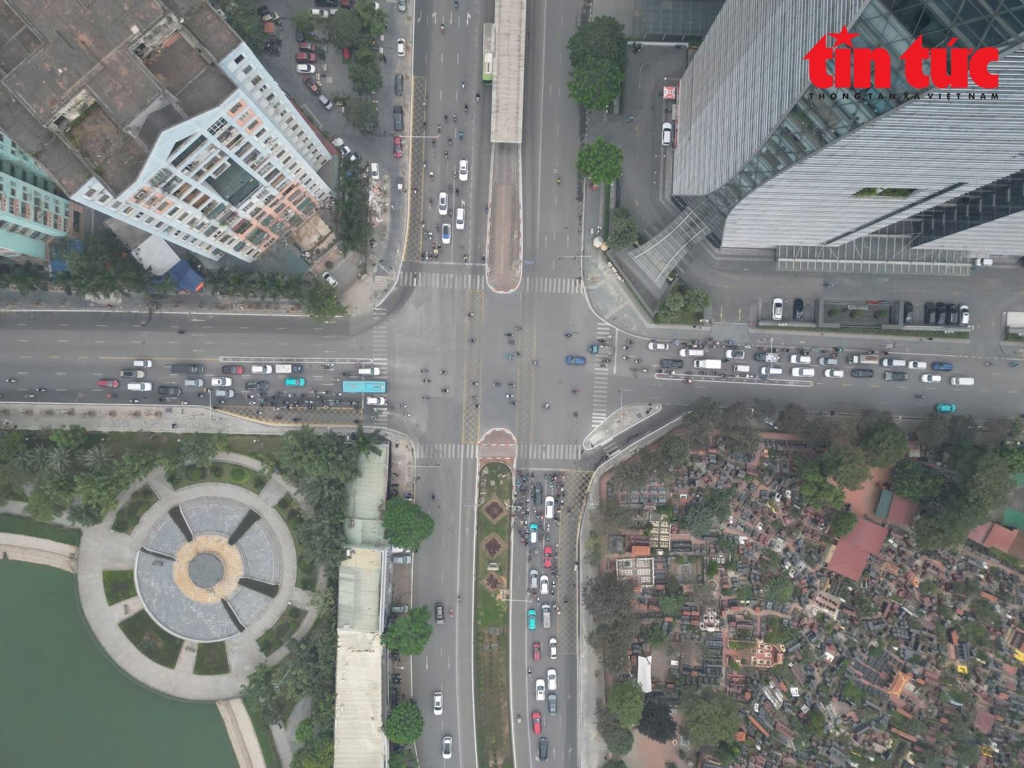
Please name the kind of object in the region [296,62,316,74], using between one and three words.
vehicle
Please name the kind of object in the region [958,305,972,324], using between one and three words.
car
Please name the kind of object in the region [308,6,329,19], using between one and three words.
vehicle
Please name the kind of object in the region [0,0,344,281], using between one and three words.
building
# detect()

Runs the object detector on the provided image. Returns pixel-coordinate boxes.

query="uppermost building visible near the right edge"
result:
[671,0,1024,249]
